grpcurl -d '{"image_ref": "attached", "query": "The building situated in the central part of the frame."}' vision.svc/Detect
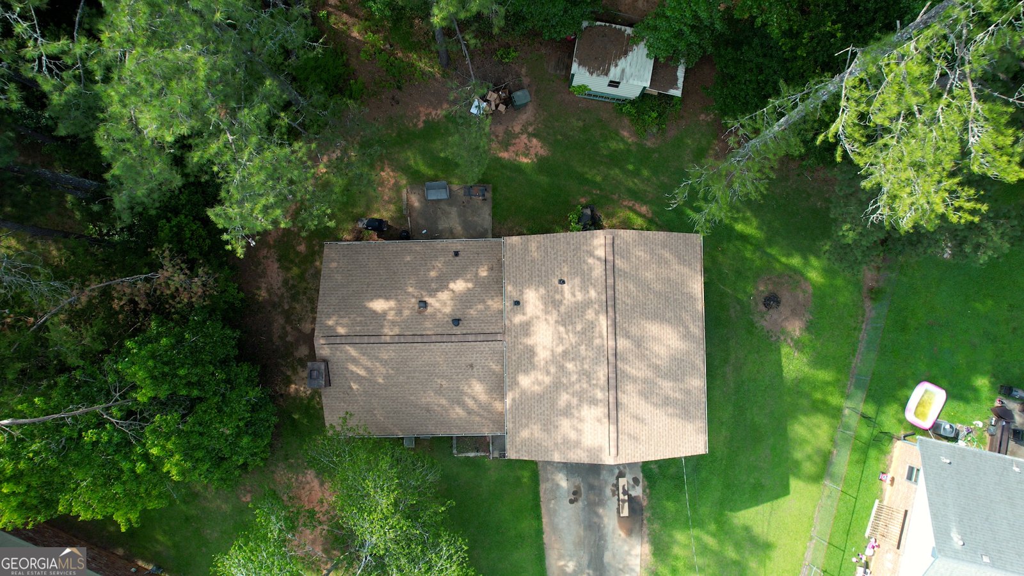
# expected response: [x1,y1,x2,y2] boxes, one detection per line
[308,230,712,465]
